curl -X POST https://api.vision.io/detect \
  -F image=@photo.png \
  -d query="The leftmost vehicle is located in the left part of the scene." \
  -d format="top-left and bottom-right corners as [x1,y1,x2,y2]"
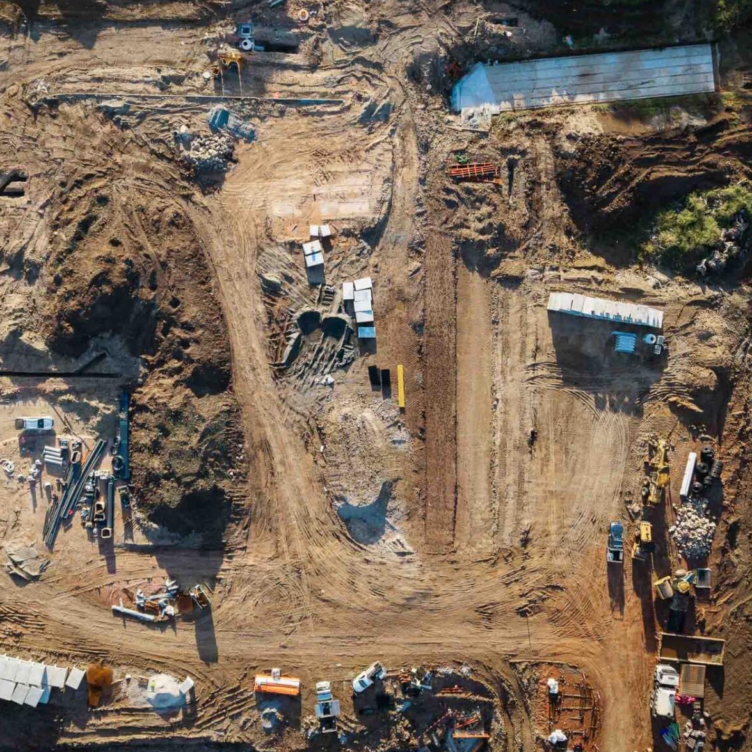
[17,416,59,433]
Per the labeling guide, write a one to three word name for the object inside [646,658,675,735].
truck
